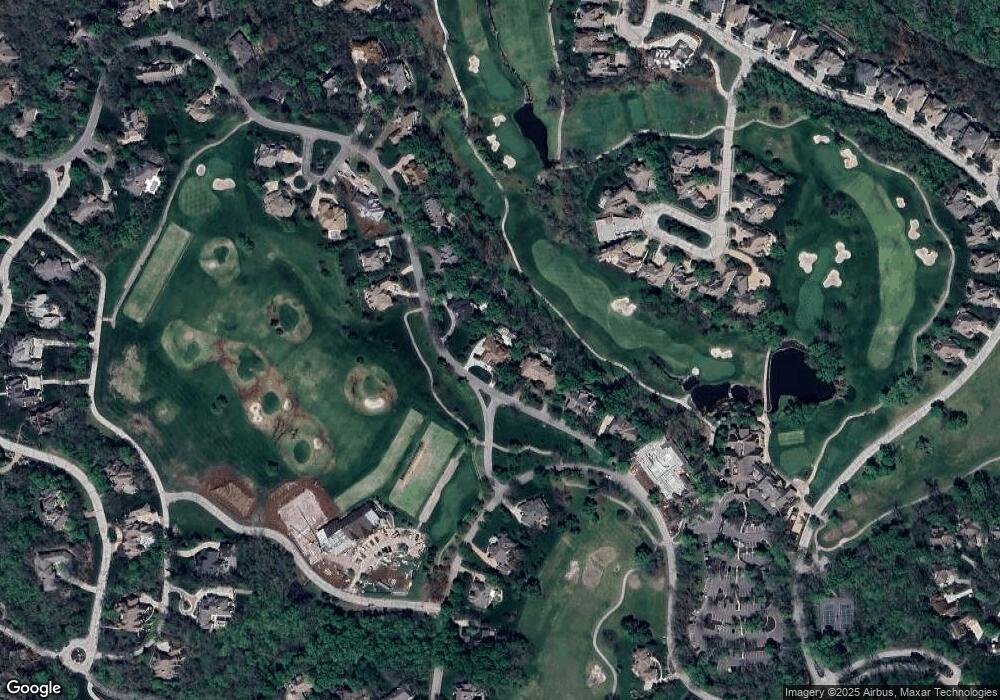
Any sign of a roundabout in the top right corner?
No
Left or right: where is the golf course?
right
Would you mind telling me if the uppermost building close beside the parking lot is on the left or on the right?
right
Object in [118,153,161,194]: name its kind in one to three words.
house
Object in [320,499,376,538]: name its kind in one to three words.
building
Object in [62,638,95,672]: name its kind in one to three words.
roundabout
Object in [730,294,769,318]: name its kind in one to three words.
house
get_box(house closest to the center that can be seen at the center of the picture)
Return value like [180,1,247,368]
[479,334,507,366]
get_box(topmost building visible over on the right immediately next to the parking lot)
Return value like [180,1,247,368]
[721,427,798,513]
